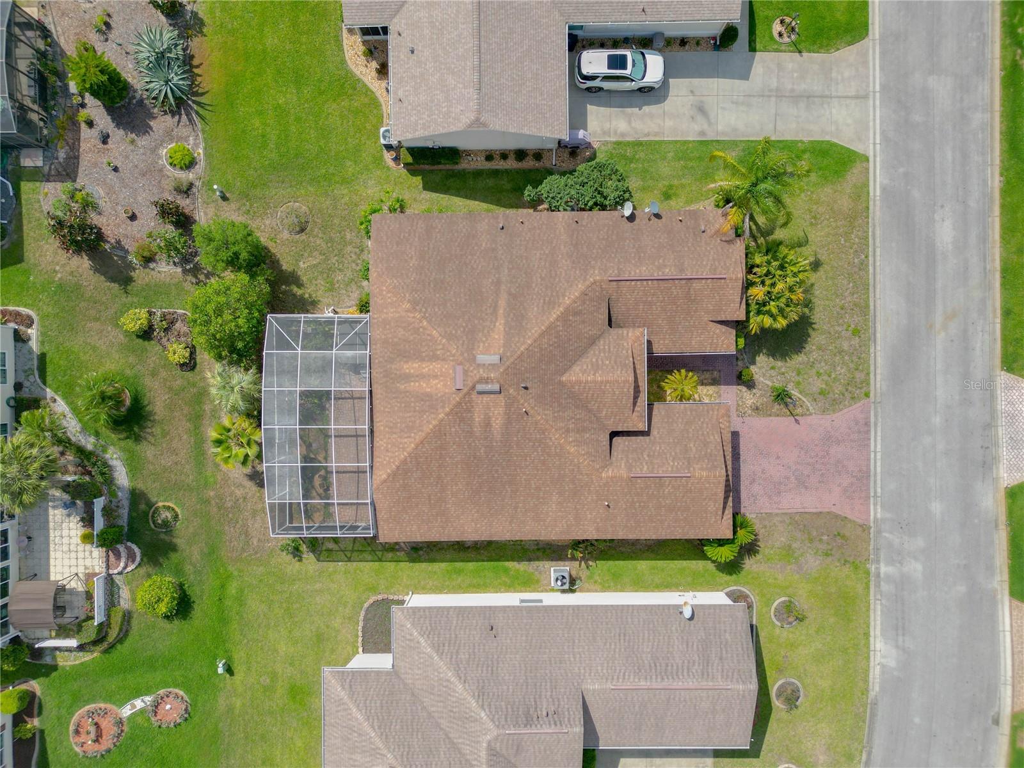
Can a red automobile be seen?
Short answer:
No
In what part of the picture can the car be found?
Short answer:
top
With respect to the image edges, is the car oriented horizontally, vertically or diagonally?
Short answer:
horizontally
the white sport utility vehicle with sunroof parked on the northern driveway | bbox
[574,46,665,93]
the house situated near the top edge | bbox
[341,0,742,167]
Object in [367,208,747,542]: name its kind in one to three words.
house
